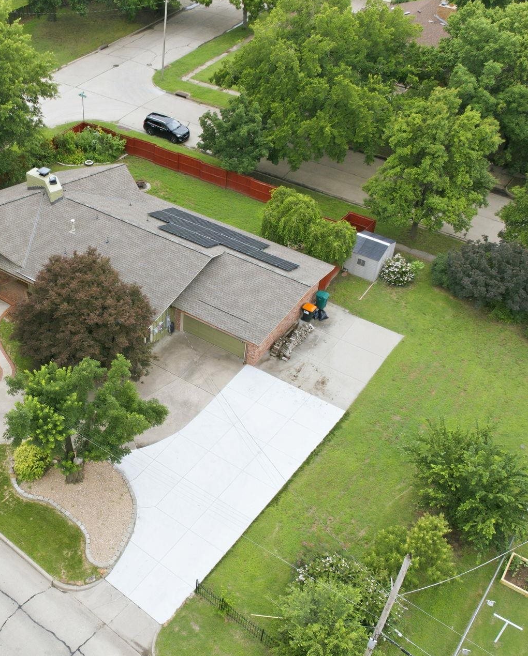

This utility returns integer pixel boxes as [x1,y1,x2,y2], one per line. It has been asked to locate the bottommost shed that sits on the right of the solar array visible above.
[346,234,397,280]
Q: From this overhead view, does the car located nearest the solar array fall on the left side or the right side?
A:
left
